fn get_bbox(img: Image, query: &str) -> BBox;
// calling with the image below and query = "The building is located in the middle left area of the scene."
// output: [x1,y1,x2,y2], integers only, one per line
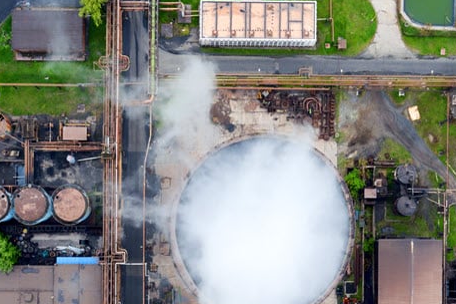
[60,122,94,142]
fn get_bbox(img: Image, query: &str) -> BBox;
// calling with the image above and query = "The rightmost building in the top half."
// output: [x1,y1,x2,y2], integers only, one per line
[200,0,317,49]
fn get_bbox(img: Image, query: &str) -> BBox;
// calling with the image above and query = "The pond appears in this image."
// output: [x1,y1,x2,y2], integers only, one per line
[398,0,456,34]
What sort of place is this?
industrial area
